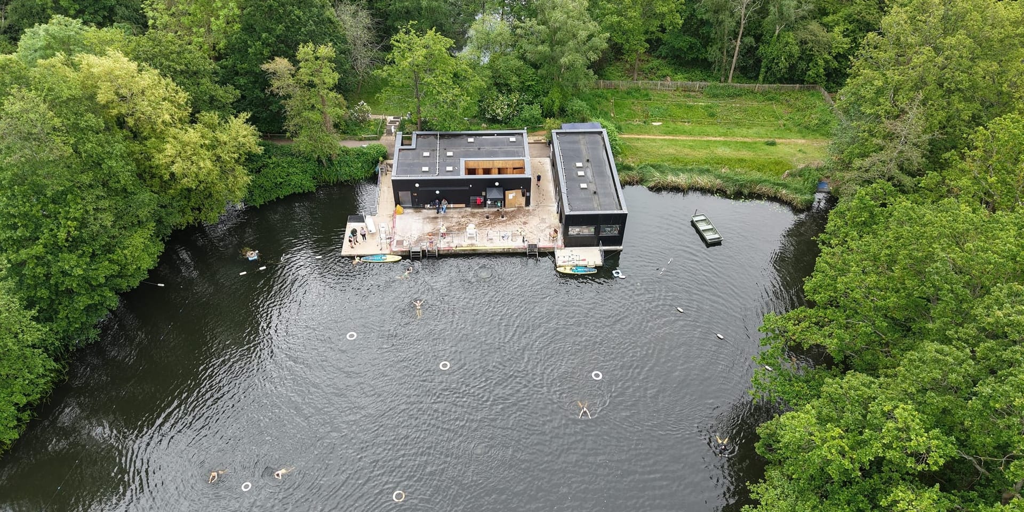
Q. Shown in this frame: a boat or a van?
boat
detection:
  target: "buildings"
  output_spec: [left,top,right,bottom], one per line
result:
[391,131,532,209]
[550,129,628,260]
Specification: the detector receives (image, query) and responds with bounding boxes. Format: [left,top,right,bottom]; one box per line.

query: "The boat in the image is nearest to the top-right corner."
[694,210,723,241]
